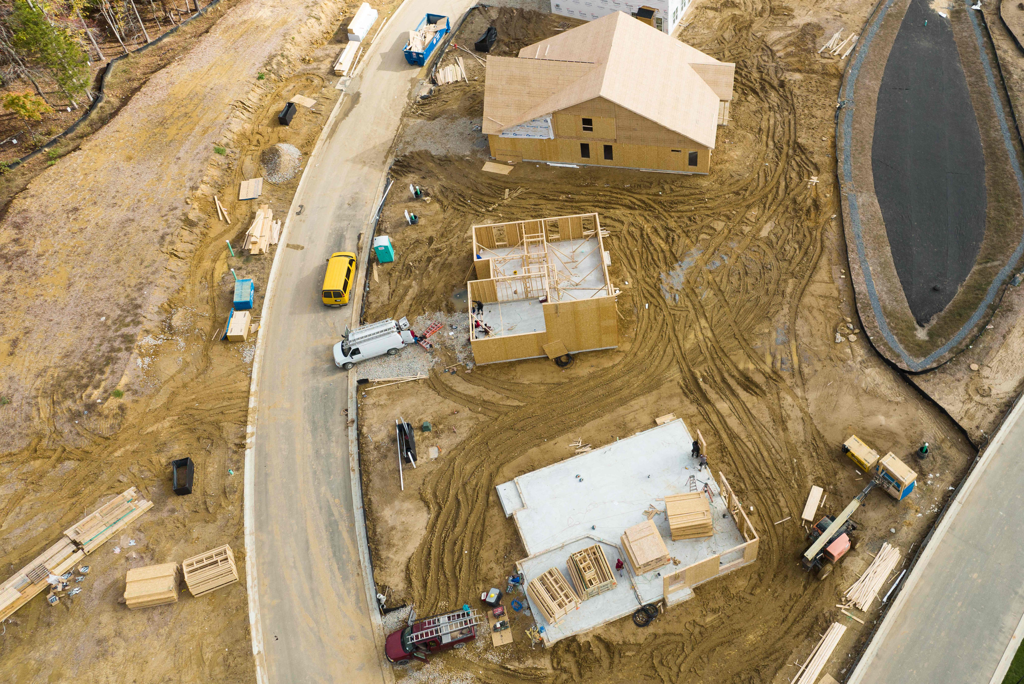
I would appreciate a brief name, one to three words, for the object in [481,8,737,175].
house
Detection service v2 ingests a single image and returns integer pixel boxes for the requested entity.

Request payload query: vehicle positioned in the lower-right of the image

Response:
[792,482,888,585]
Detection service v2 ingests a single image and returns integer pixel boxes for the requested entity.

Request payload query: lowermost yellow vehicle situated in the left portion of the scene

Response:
[321,251,356,307]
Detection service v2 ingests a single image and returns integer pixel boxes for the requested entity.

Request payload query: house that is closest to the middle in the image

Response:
[467,211,623,365]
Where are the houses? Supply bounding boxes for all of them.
[481,8,737,175]
[467,211,623,365]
